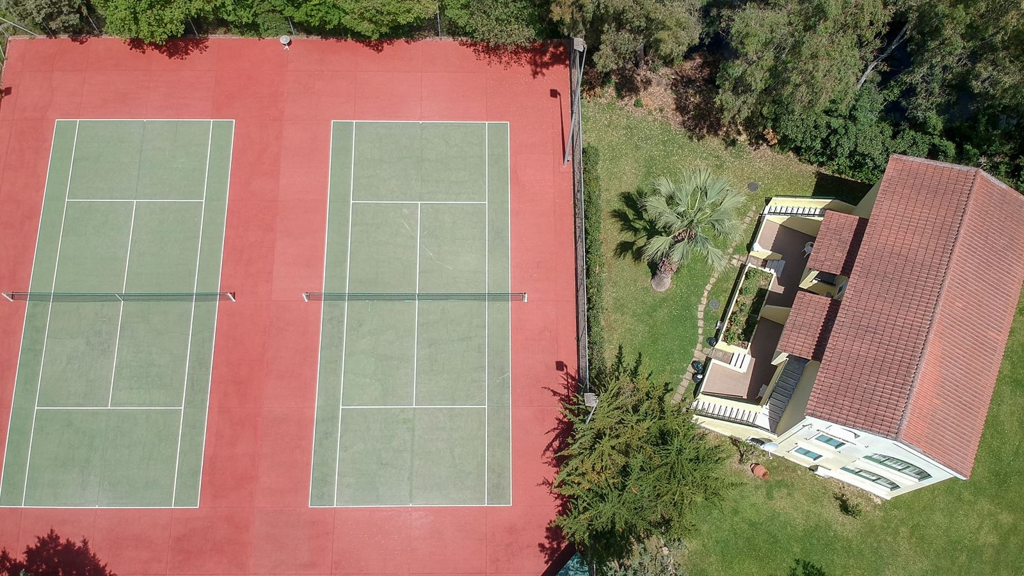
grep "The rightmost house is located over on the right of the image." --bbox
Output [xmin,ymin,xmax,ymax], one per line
[688,148,1024,500]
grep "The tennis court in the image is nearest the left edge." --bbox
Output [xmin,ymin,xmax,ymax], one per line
[0,38,289,576]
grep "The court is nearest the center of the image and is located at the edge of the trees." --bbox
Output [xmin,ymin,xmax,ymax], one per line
[250,40,585,576]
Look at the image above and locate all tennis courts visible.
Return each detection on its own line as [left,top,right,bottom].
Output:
[250,40,585,576]
[0,38,289,576]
